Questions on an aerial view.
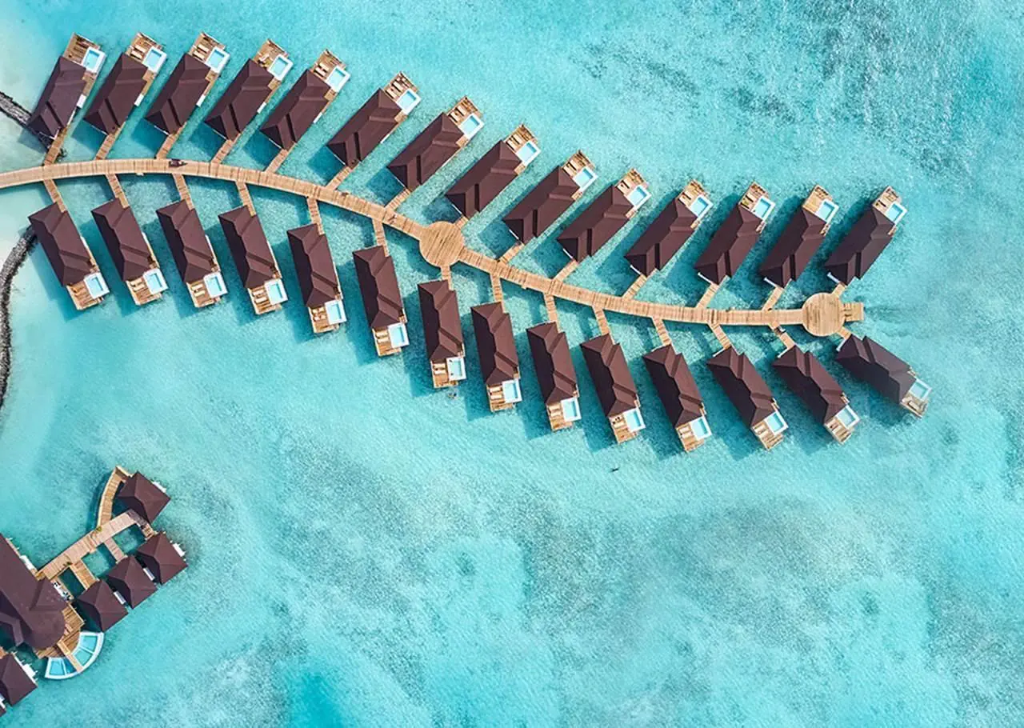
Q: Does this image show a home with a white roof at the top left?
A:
No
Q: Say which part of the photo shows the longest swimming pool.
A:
bottom left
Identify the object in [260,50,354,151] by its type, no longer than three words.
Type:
house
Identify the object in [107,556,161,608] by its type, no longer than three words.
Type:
building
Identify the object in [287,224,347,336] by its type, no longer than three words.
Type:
house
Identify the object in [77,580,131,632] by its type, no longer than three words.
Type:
building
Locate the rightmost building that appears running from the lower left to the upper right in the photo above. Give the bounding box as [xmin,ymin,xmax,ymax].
[821,184,904,285]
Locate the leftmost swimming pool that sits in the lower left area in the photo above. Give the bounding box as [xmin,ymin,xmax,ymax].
[45,629,109,677]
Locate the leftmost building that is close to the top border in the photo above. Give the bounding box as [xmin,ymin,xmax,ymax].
[27,33,110,141]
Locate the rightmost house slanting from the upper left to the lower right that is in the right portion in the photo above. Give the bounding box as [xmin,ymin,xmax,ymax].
[833,335,930,420]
